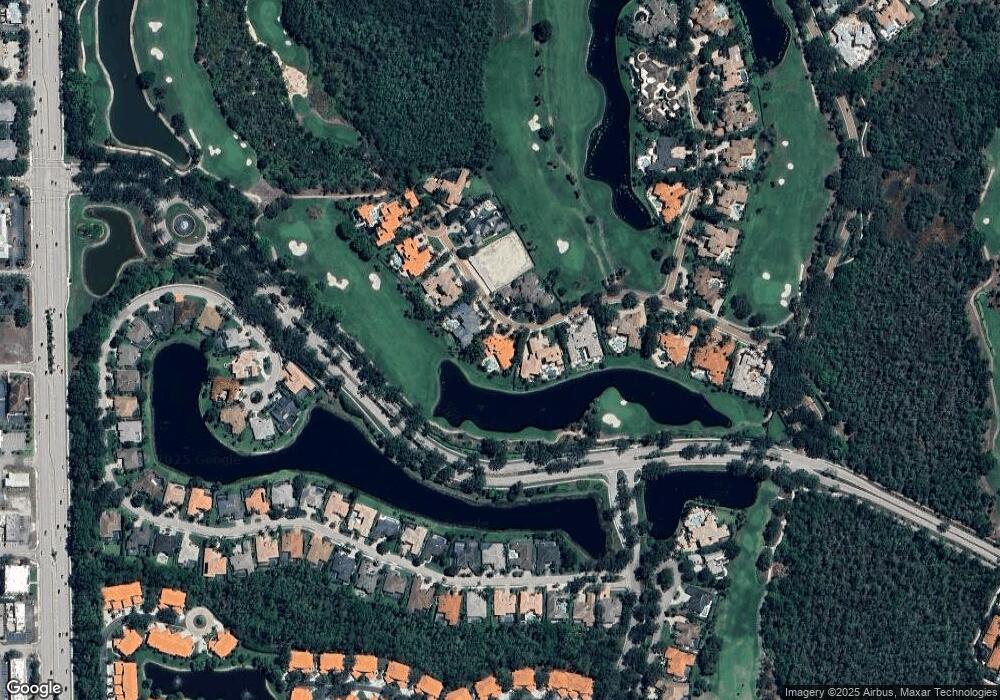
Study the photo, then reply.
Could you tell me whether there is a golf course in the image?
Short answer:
Yes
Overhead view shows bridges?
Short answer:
No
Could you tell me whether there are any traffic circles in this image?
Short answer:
Yes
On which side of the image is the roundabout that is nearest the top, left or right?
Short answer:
left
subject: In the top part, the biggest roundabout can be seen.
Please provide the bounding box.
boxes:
[158,196,214,252]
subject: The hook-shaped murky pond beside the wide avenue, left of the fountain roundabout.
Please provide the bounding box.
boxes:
[83,206,142,296]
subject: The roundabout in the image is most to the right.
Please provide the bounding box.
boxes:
[242,383,271,411]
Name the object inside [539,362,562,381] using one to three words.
swimming pool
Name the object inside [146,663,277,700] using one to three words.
pond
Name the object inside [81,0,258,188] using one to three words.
golf course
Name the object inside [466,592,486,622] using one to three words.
house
